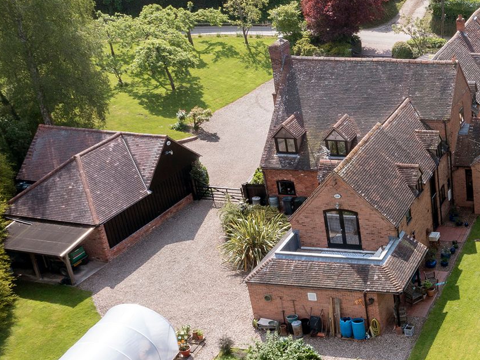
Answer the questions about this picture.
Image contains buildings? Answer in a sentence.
Yes, looking at the shot, I can spot a building.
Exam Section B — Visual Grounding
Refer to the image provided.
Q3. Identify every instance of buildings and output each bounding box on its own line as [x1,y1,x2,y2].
[59,310,177,360]
[2,122,203,286]
[238,37,480,334]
